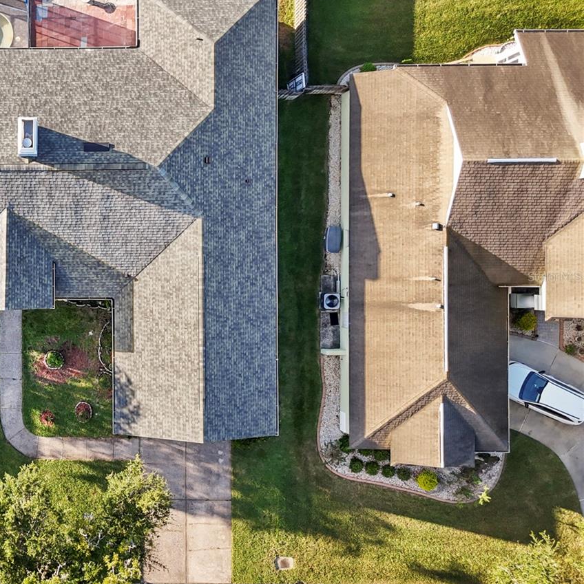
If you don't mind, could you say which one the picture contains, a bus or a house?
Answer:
house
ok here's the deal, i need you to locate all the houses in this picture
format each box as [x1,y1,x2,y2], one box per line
[329,27,584,467]
[0,0,281,445]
